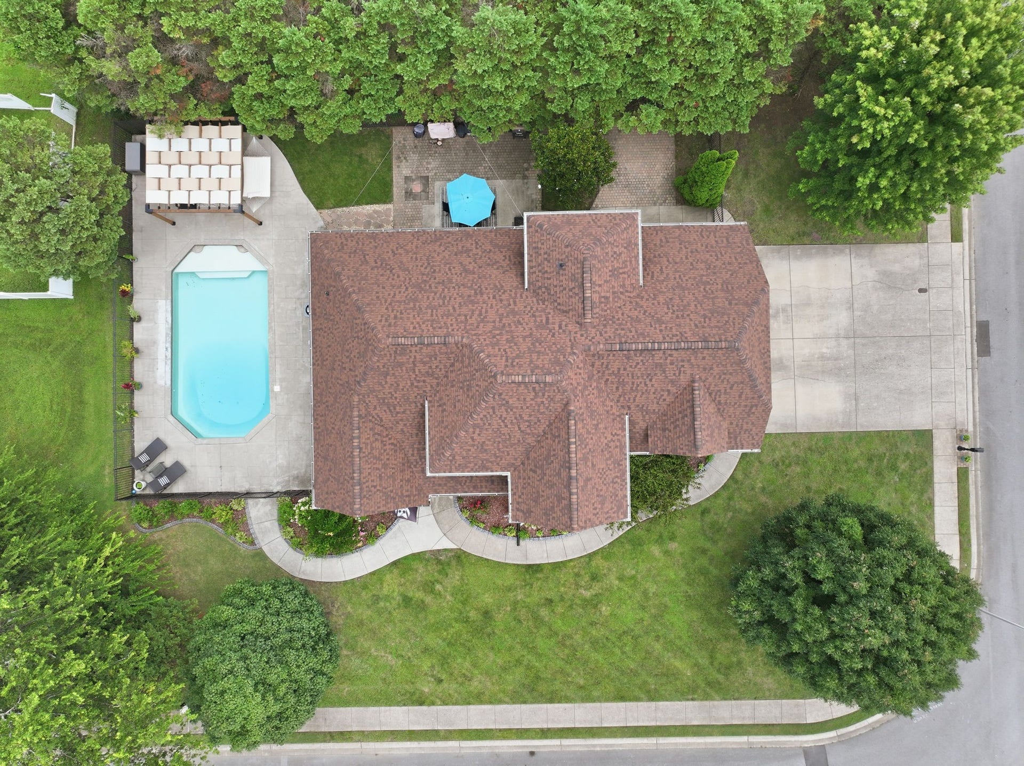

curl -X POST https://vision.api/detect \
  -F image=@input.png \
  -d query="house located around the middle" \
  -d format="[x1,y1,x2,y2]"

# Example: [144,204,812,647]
[307,208,774,537]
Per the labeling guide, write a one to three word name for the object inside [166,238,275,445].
swimming pool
